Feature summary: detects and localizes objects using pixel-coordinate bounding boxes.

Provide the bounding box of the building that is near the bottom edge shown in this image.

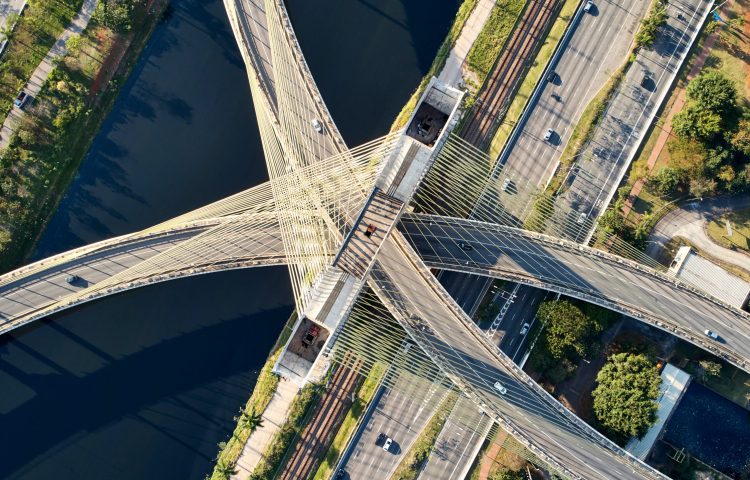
[620,362,690,459]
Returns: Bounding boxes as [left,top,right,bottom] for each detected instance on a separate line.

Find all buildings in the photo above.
[620,362,690,459]
[659,243,750,306]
